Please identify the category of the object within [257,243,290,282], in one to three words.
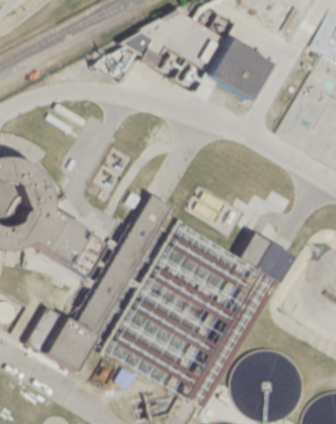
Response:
house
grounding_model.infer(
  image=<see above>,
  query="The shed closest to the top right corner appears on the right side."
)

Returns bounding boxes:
[208,38,275,99]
